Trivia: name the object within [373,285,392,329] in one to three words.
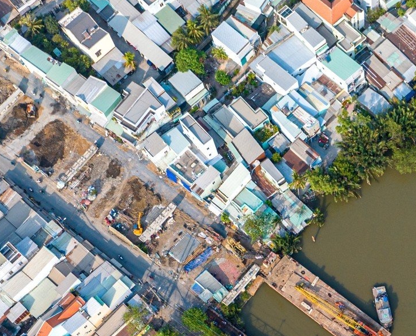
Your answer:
boat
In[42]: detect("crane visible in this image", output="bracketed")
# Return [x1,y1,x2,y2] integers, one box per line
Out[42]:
[295,285,379,336]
